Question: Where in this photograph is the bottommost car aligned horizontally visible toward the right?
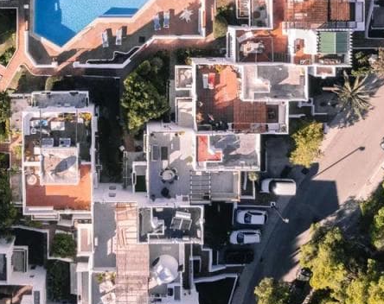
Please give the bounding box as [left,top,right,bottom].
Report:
[221,247,256,264]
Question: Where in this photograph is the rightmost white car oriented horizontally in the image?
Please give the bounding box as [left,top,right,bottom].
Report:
[259,178,298,197]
